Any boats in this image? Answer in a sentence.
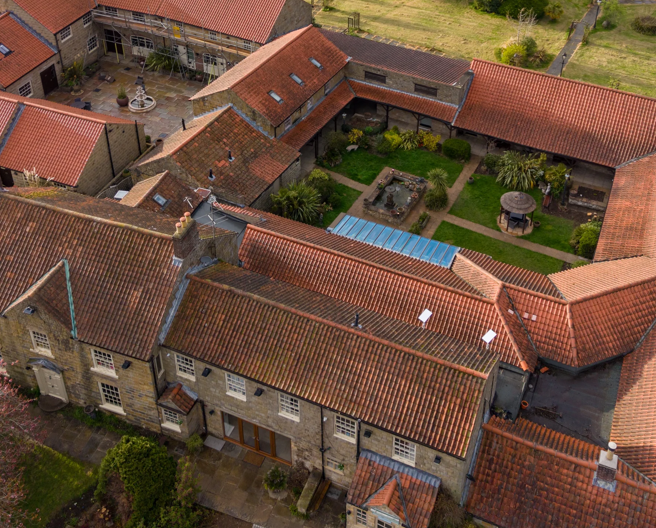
No, no boat is visible in the view.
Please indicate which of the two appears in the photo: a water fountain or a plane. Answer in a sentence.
It is a water fountain that can be seen here.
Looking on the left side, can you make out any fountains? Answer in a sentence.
Yes, a fountain can be seen on the left side.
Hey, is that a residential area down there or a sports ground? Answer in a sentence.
The area seen from above is a residential area.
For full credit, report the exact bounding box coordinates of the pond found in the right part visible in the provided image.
[362,172,427,226]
